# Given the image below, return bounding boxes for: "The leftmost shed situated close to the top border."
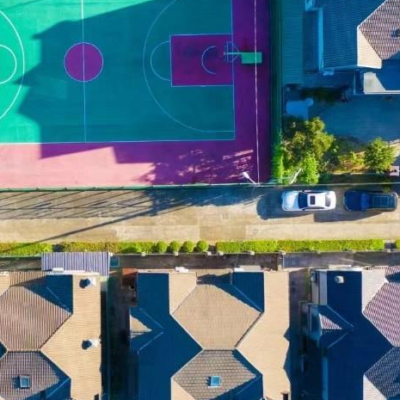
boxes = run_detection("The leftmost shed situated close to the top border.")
[276,0,310,86]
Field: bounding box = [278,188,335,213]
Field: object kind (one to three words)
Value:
car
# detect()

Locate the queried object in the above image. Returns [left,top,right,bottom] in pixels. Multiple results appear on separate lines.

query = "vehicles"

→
[341,187,397,213]
[278,188,335,213]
